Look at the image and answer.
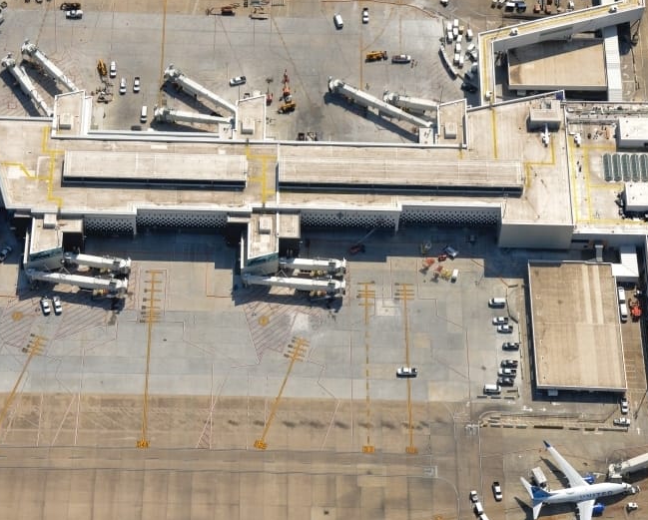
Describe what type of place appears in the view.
airport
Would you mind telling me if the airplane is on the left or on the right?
right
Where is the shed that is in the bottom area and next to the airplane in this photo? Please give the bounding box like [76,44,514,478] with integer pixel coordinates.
[528,260,627,395]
